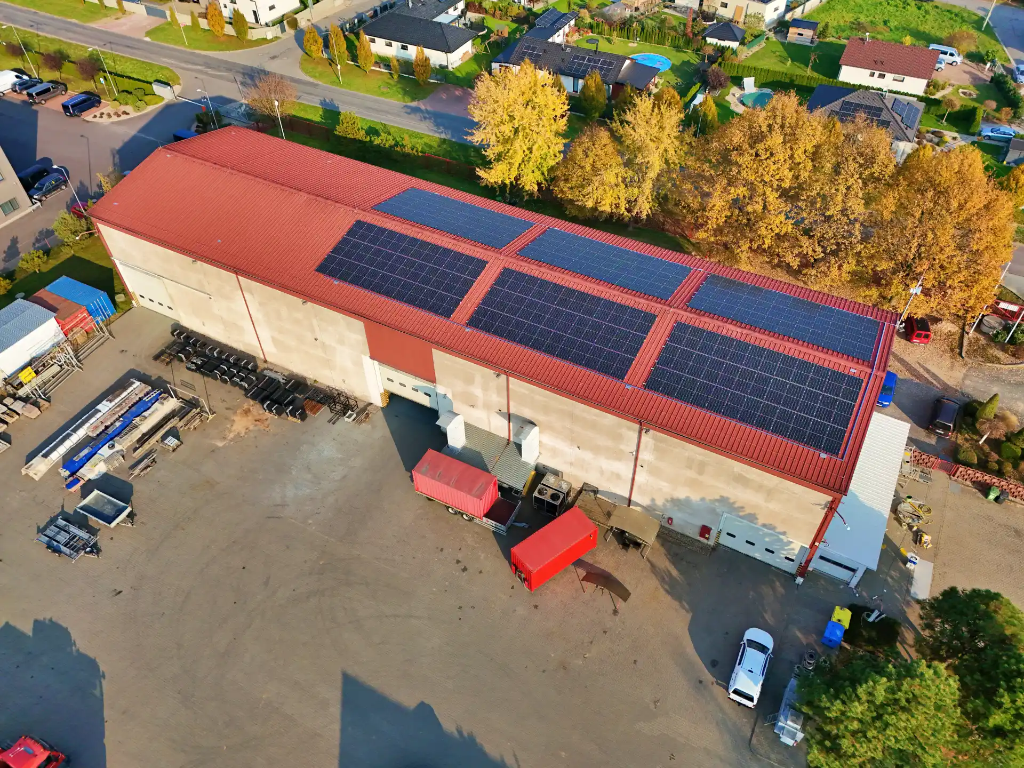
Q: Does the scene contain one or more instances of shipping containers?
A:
Yes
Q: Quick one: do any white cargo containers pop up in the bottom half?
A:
No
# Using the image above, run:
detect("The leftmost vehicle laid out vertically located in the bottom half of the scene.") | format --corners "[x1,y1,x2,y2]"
[732,626,773,711]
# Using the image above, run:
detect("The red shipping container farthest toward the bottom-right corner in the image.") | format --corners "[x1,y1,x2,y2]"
[513,507,598,593]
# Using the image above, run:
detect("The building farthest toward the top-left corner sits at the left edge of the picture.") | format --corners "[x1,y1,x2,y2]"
[0,168,39,228]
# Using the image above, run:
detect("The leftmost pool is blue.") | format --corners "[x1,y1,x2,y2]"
[631,53,671,73]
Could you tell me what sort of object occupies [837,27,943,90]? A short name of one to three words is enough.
house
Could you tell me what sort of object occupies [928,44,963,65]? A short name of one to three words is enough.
vehicle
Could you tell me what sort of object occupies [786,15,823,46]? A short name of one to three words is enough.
shed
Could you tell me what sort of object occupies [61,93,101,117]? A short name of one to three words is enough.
vehicle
